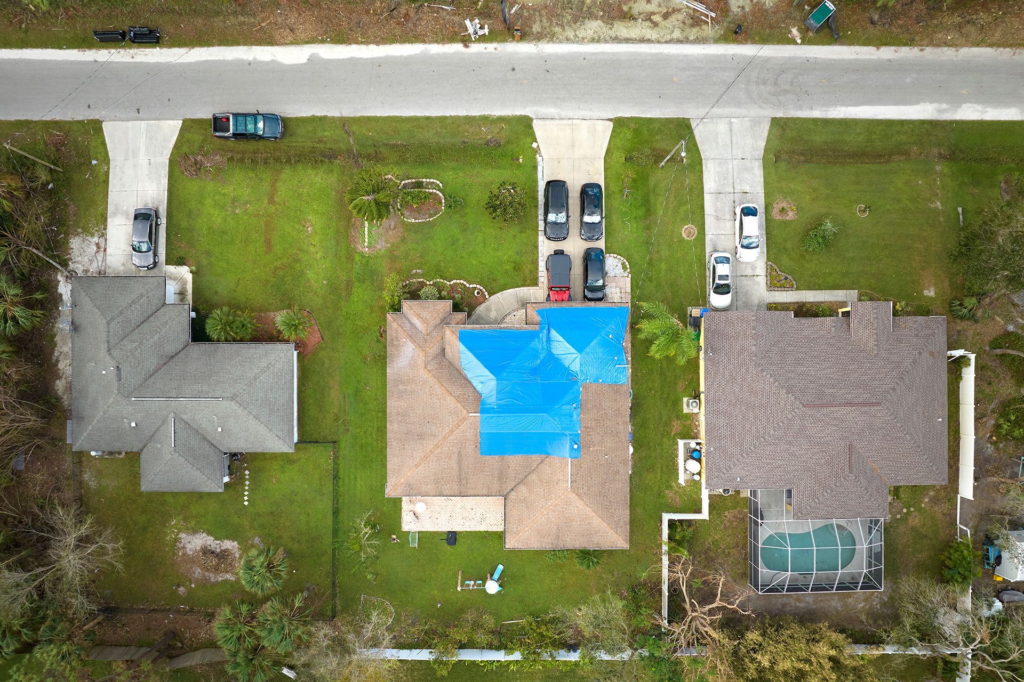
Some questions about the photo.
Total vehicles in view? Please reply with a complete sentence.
In total, there are 8 vehicles in the scene.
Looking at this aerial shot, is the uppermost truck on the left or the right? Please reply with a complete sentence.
The uppermost truck appears in the left half of the scene.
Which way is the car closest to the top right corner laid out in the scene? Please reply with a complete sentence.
I'd say the car closest to the top right corner is aligned up and down in the picture.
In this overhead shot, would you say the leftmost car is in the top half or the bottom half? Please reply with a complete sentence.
The leftmost car sits in the top half of the picture.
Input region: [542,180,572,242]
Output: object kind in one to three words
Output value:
car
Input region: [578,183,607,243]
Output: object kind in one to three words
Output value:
car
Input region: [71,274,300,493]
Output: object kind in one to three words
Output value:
house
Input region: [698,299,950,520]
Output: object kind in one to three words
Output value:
house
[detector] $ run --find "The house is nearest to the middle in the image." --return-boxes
[385,298,631,551]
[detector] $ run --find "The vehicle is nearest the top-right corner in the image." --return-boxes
[731,203,762,263]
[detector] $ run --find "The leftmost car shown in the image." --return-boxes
[129,207,162,269]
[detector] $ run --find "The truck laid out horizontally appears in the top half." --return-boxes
[210,109,285,142]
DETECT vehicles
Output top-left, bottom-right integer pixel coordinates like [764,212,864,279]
[706,252,734,311]
[129,207,162,269]
[542,180,572,242]
[578,183,607,243]
[731,203,762,263]
[210,109,285,142]
[580,246,609,300]
[546,247,572,300]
